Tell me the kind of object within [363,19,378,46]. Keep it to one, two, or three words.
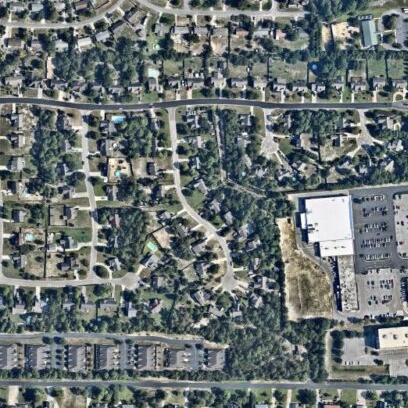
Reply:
building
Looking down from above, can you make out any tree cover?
Yes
